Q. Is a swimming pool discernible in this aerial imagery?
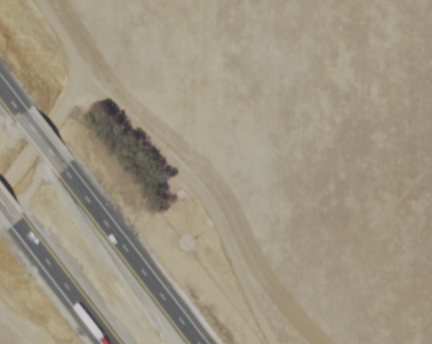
No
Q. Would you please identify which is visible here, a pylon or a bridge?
bridge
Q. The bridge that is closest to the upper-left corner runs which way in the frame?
diagonally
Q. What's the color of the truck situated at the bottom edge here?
white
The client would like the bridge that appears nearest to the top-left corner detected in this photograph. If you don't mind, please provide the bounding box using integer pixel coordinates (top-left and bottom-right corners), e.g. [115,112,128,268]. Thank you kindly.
[11,102,78,178]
